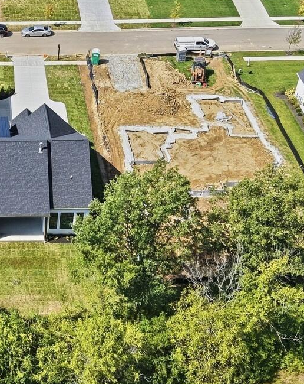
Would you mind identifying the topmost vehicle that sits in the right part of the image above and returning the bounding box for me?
[176,36,218,50]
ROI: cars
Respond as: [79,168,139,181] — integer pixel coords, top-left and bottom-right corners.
[0,23,9,37]
[22,25,54,38]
